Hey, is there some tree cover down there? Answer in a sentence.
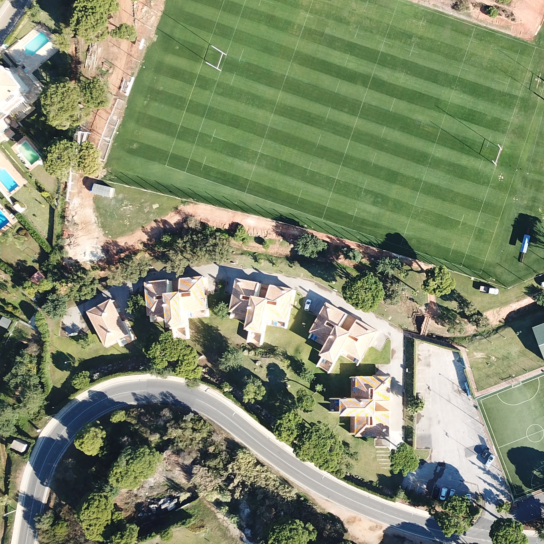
Yes, tree cover can be seen from above here.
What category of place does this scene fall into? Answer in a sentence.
It's a sports ground.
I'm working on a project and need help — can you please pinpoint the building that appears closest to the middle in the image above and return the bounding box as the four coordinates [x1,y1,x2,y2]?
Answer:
[230,279,300,346]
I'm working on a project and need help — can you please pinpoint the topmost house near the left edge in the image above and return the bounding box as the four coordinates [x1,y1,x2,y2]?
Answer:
[0,66,38,140]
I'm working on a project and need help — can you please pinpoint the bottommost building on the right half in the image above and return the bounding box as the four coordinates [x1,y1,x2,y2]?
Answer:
[330,373,392,437]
